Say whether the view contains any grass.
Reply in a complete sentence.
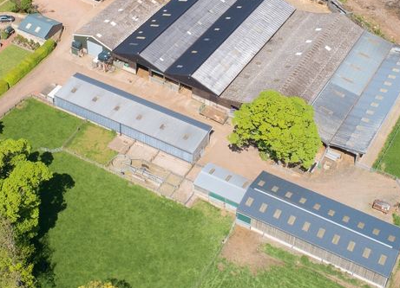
Yes, there's grass in this view.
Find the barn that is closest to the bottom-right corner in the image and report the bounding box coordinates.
[236,170,400,288]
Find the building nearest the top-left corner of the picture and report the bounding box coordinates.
[18,14,63,43]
